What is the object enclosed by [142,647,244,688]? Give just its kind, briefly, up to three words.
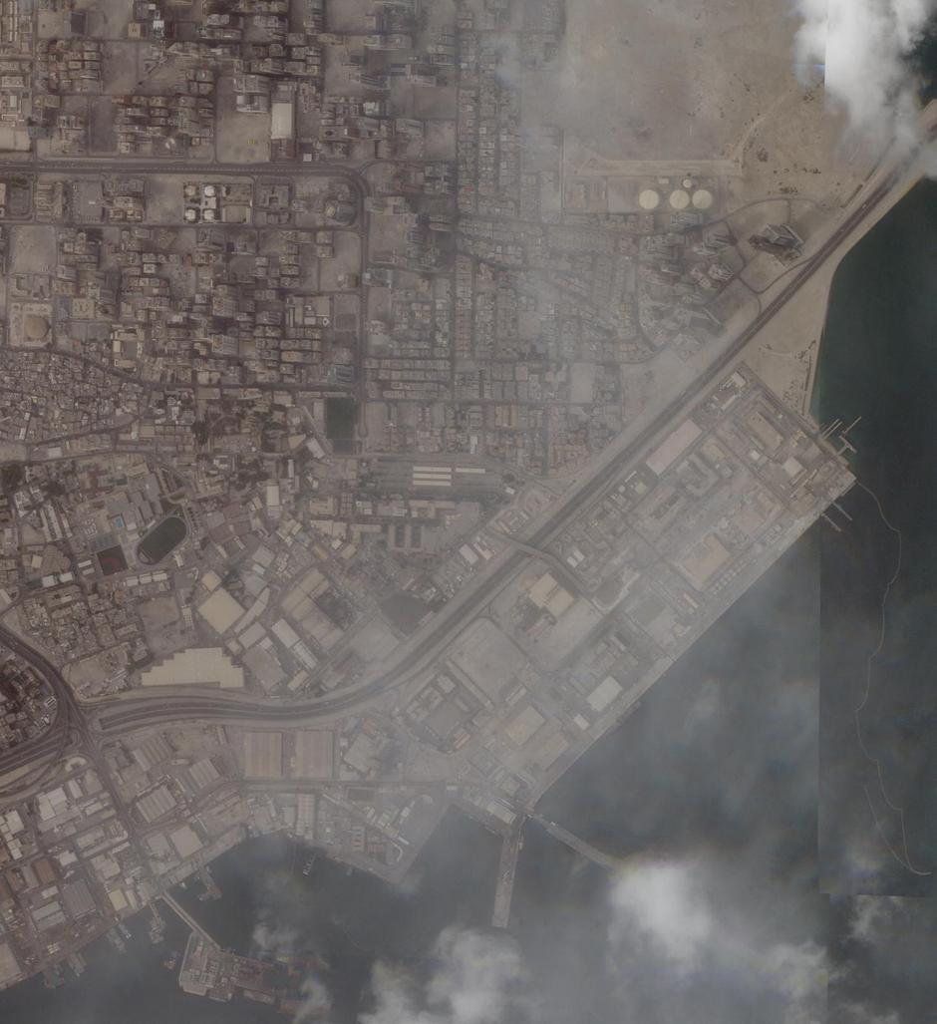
building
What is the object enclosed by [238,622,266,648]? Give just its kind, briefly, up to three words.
building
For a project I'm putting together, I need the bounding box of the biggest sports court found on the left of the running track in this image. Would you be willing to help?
[96,545,127,575]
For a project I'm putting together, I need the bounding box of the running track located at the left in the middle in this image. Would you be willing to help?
[134,515,190,567]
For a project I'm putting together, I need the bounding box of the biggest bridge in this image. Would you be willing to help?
[481,523,606,613]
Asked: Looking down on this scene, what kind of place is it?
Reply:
port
